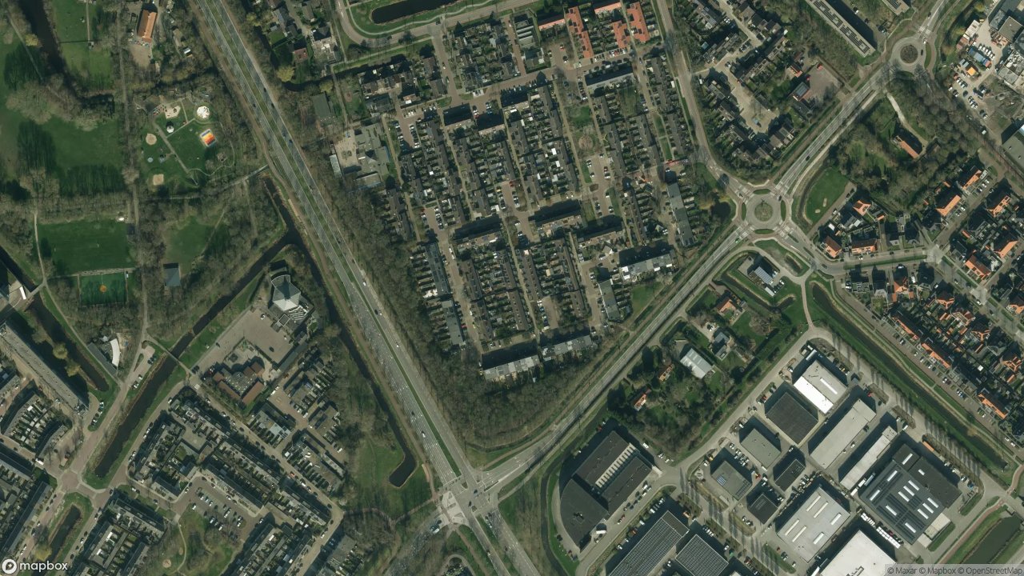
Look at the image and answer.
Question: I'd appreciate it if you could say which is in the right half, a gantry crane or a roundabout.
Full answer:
There is a roundabout in the right half.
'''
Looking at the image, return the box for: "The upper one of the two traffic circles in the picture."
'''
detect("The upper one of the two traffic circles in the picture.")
[890,35,931,76]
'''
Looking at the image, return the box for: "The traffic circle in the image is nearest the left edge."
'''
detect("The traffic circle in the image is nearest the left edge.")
[737,185,790,238]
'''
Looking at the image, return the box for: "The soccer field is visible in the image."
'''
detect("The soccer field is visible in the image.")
[50,225,126,266]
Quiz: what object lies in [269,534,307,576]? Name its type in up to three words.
house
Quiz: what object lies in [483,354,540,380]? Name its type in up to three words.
building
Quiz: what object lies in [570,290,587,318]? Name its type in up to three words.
house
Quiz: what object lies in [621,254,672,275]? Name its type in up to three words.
building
